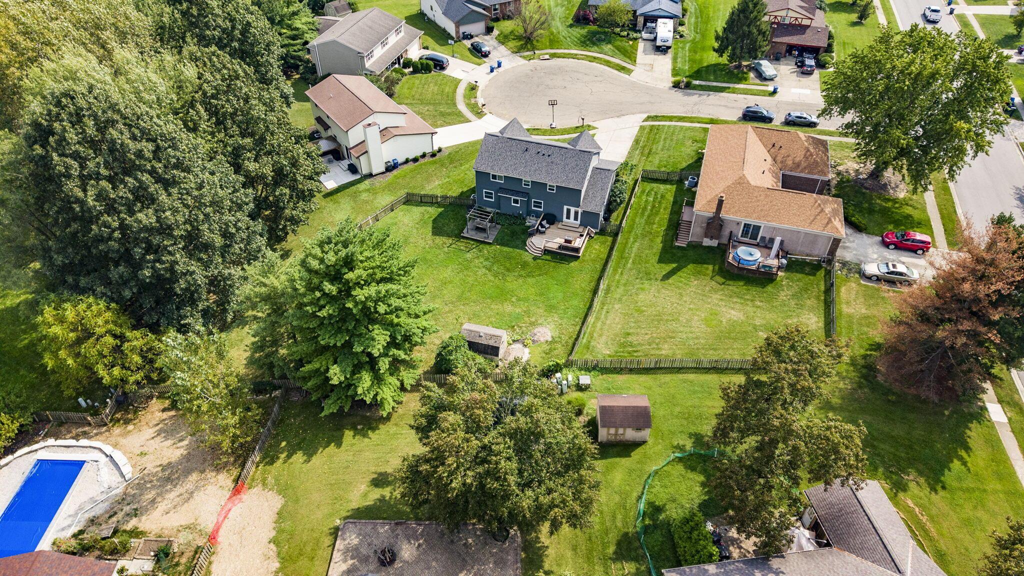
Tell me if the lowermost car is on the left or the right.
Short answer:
right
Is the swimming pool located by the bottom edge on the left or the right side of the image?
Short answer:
left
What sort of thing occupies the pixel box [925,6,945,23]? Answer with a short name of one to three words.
vehicle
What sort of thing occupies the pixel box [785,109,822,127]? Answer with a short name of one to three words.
car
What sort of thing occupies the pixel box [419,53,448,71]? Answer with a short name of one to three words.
car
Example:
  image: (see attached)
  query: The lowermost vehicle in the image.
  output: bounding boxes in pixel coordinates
[864,262,923,287]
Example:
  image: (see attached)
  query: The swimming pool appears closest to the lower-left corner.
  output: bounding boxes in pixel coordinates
[0,450,92,556]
